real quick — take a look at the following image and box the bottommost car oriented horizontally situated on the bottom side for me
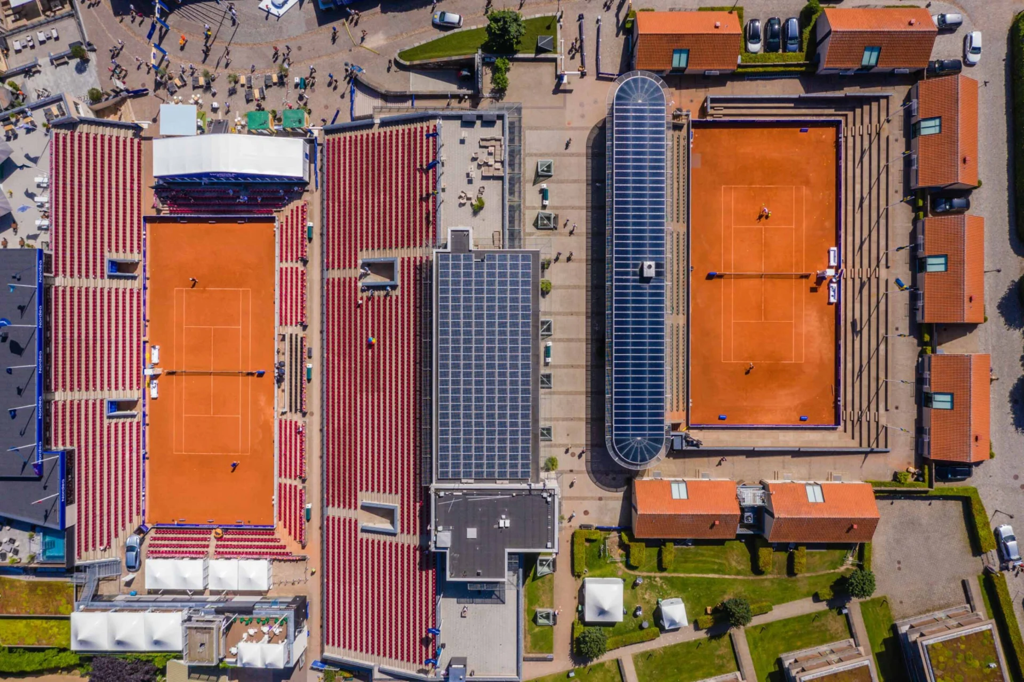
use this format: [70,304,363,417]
[934,464,971,481]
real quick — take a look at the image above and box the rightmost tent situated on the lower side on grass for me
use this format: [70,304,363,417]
[658,596,688,630]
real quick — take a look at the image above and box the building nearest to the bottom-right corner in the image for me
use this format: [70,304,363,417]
[899,602,1008,682]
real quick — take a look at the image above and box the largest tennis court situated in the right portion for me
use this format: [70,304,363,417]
[691,123,838,426]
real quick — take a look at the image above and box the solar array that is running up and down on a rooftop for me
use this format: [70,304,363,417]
[438,254,531,479]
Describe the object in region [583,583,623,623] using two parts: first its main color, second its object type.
white tent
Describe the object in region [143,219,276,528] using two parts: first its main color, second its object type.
orange tennis court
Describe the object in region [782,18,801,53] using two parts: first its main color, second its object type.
blue car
